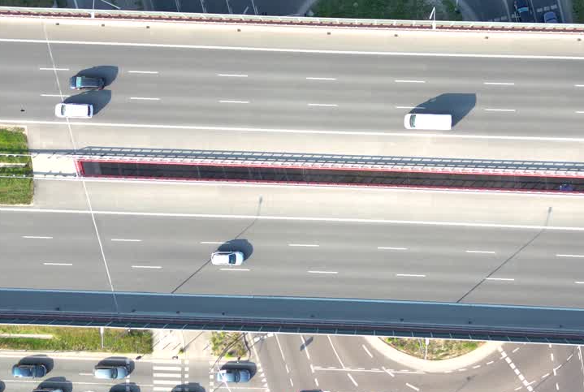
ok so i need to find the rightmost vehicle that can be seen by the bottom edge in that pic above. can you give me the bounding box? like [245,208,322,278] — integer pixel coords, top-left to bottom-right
[218,368,251,384]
